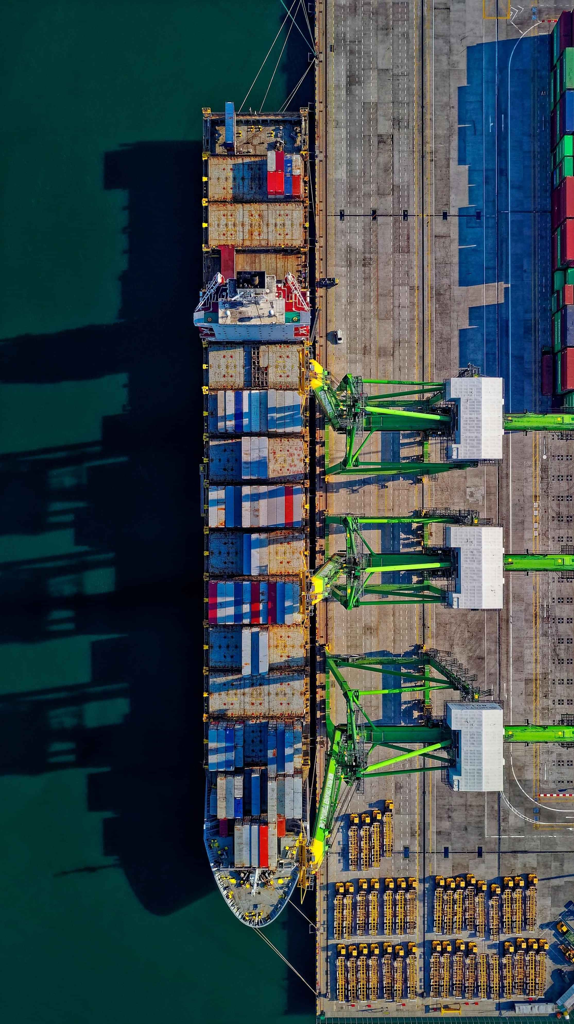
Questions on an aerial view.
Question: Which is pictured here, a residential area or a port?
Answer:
port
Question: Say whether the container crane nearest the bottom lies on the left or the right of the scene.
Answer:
right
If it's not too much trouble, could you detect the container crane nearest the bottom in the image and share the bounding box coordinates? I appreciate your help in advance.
[297,643,574,898]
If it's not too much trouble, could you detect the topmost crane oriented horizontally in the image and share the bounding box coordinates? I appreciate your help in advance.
[296,343,574,484]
